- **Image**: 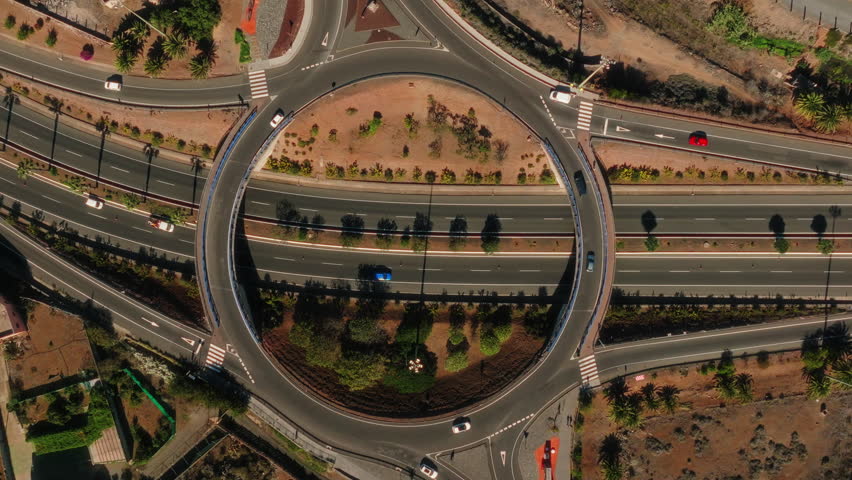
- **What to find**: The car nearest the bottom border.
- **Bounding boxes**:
[419,463,438,478]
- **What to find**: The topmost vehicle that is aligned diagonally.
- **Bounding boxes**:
[270,109,285,128]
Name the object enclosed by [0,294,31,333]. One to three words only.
house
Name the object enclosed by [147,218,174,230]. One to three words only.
vehicle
